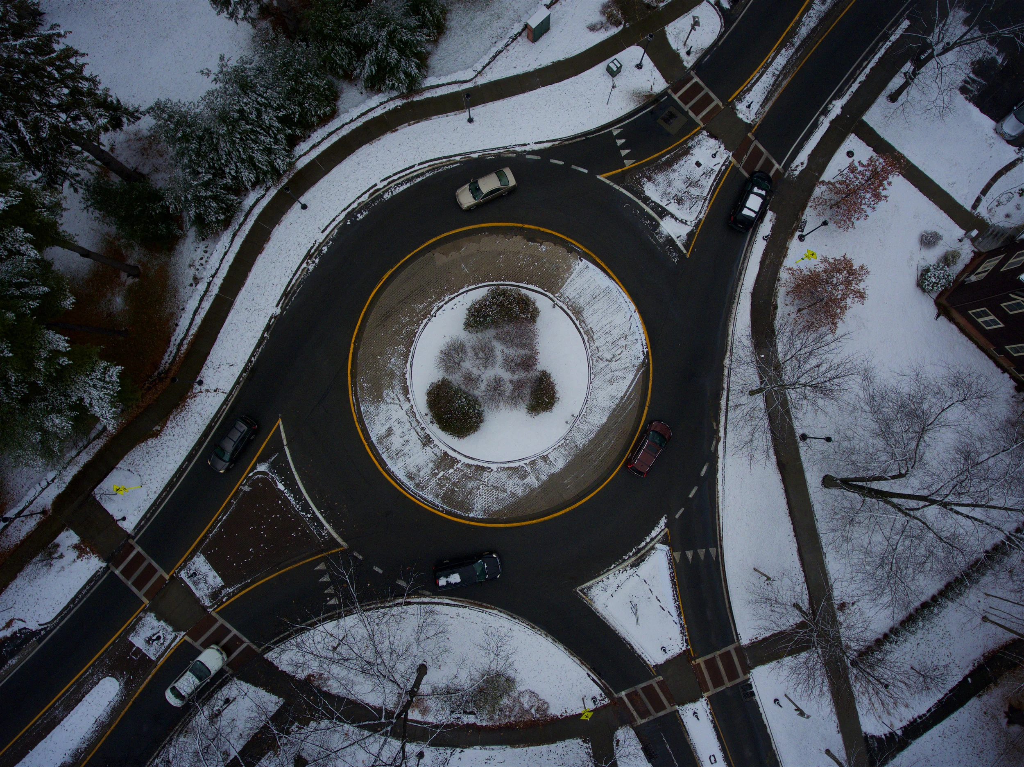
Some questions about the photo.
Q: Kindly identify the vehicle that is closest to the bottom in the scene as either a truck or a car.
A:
car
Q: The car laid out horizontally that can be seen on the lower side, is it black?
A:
Yes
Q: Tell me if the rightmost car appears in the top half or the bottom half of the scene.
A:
top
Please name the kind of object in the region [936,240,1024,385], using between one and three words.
house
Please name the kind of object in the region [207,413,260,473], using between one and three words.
car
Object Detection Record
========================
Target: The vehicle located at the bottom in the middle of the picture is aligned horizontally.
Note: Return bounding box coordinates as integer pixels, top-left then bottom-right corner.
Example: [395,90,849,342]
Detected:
[431,554,502,594]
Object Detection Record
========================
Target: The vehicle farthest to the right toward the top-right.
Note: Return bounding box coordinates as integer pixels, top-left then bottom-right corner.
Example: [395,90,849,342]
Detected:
[996,96,1024,139]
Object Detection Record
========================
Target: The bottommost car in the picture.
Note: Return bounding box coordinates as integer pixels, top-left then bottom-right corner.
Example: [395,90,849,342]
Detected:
[162,644,229,710]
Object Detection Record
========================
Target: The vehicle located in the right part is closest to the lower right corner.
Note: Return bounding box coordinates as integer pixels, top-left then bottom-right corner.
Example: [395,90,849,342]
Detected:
[626,420,671,479]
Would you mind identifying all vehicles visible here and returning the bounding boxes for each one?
[162,644,229,710]
[728,168,773,233]
[996,96,1024,139]
[431,554,502,594]
[457,167,517,208]
[207,413,260,473]
[626,420,671,479]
